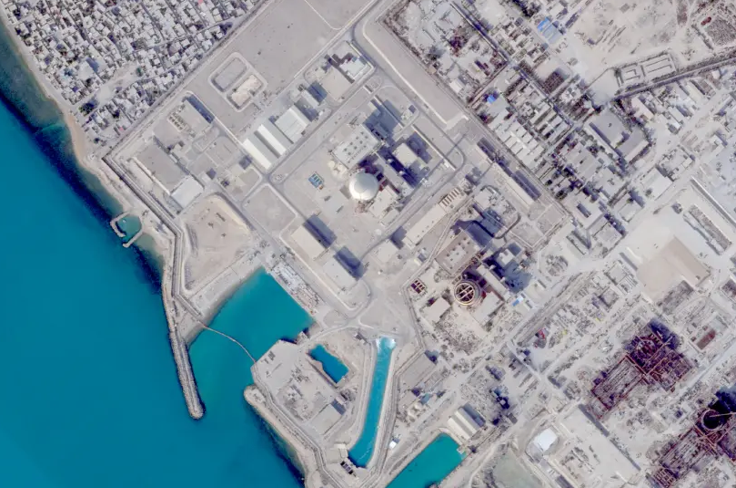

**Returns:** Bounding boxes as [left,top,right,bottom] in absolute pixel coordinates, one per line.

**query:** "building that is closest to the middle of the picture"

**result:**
[372,240,399,264]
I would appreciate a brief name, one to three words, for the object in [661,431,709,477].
building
